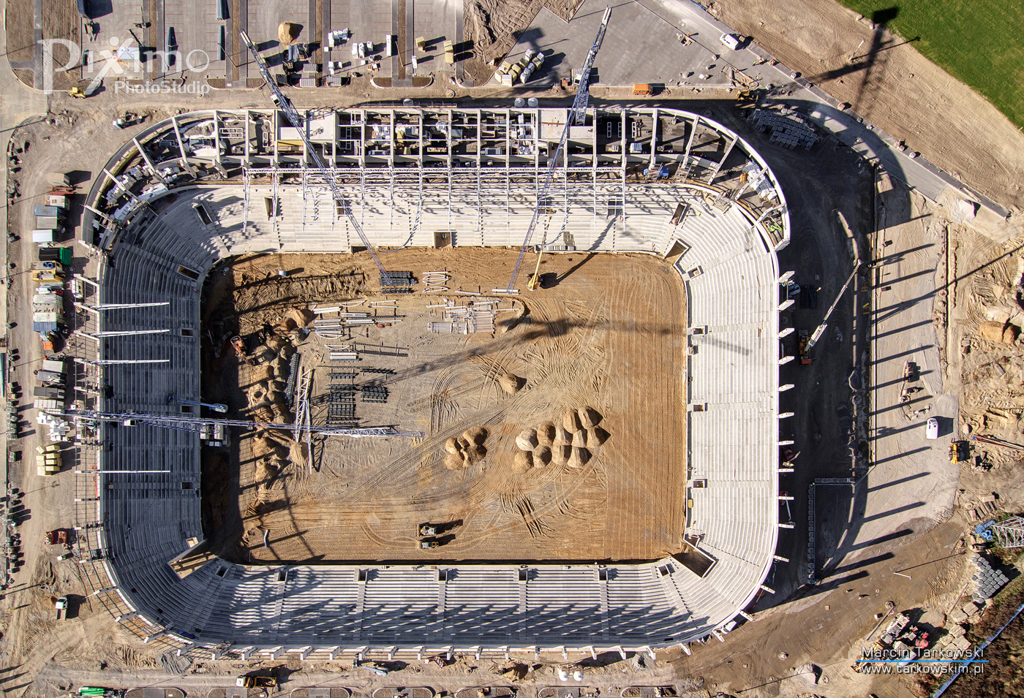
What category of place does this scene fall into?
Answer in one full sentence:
What you see here is a sports ground.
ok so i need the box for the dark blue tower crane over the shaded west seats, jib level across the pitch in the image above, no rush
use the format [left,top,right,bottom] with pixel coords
[55,408,424,442]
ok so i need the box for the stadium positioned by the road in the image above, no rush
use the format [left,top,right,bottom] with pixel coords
[74,108,794,660]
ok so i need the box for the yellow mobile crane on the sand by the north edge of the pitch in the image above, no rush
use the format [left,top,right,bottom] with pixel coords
[517,211,554,302]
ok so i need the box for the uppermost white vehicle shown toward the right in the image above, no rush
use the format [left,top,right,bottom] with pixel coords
[720,31,741,49]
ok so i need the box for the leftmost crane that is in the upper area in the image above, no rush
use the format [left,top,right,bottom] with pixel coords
[238,29,388,281]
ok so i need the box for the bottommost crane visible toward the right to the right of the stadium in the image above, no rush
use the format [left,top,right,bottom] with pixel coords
[791,260,861,367]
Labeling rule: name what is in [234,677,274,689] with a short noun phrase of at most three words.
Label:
vehicle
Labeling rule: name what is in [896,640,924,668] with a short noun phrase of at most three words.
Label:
truck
